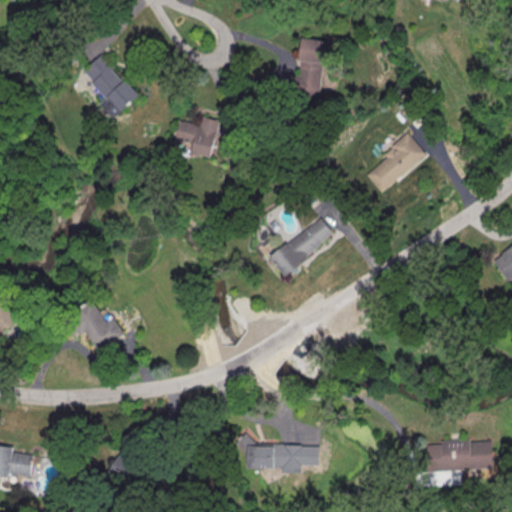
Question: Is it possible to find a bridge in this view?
Yes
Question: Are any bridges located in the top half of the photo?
No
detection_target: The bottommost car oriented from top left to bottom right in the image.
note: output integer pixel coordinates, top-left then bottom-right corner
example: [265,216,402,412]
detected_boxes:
[324,214,338,229]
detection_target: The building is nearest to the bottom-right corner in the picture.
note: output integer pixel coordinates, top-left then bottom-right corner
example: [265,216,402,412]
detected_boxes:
[420,440,496,488]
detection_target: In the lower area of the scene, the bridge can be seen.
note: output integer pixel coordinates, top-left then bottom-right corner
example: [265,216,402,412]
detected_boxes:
[219,294,300,374]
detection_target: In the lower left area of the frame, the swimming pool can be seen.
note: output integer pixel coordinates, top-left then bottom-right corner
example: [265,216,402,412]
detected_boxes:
[44,465,62,494]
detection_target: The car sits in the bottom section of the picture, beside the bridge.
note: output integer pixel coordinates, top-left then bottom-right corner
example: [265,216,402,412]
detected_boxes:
[292,338,310,357]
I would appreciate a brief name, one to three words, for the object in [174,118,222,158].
house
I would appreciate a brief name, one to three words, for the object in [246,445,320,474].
house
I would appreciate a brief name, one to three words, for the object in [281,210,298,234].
swimming pool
